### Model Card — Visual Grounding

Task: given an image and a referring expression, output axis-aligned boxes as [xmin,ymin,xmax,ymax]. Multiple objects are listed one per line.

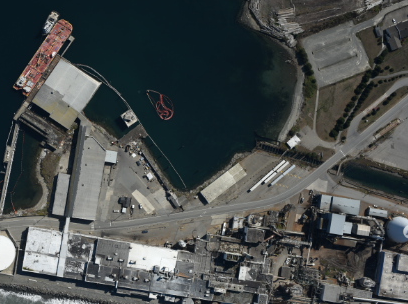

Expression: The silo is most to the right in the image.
[386,216,408,244]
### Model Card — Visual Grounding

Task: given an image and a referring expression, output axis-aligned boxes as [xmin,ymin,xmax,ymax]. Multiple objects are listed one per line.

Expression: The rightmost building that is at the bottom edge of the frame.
[374,250,408,300]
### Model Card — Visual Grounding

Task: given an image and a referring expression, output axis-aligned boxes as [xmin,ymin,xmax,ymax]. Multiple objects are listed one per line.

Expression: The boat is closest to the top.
[41,11,57,35]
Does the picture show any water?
Yes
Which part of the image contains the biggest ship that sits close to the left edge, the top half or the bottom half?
top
